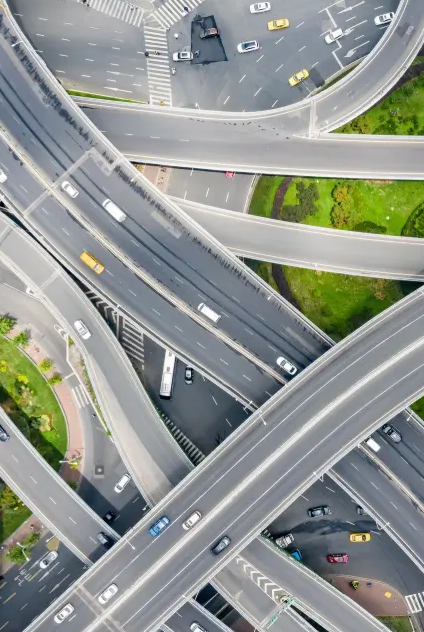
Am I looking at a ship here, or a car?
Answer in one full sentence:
Visible in the photo is a car.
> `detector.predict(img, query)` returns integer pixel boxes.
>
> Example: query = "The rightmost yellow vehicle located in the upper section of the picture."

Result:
[287,68,309,86]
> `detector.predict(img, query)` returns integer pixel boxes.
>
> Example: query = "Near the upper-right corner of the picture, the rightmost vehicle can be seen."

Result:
[373,11,395,26]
